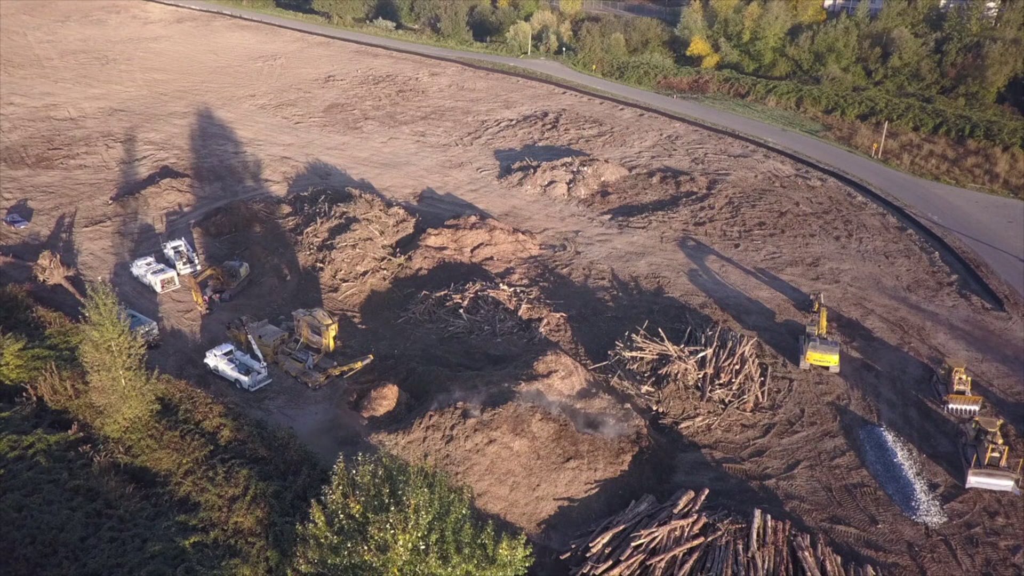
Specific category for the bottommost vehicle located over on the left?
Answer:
truck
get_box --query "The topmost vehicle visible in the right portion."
[799,278,846,372]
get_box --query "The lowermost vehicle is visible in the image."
[965,403,1024,489]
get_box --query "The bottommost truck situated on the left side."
[202,317,275,395]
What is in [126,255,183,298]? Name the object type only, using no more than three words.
truck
